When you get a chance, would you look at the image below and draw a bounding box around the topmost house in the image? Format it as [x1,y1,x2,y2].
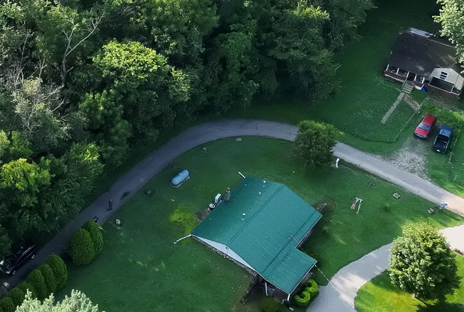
[386,28,464,100]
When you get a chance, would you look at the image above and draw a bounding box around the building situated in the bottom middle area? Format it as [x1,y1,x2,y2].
[178,177,325,302]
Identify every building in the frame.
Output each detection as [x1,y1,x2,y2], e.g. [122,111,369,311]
[386,28,464,100]
[178,177,325,302]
